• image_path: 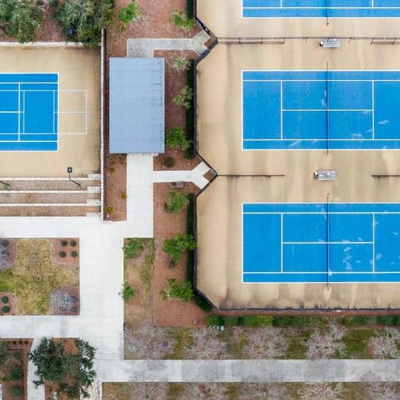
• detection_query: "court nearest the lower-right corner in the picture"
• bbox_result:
[197,175,400,309]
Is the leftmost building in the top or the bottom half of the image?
top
